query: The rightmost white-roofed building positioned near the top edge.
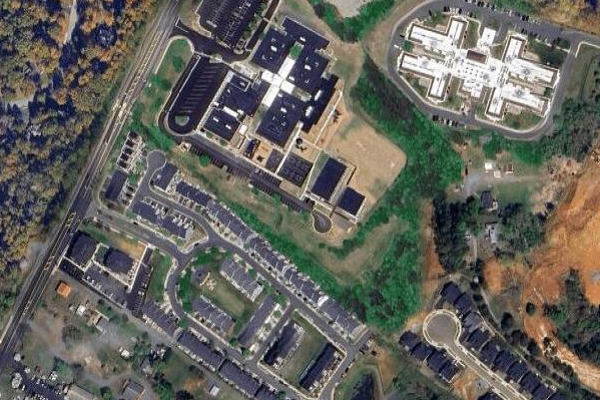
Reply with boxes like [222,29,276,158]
[400,18,558,114]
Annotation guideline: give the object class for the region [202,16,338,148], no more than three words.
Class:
building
